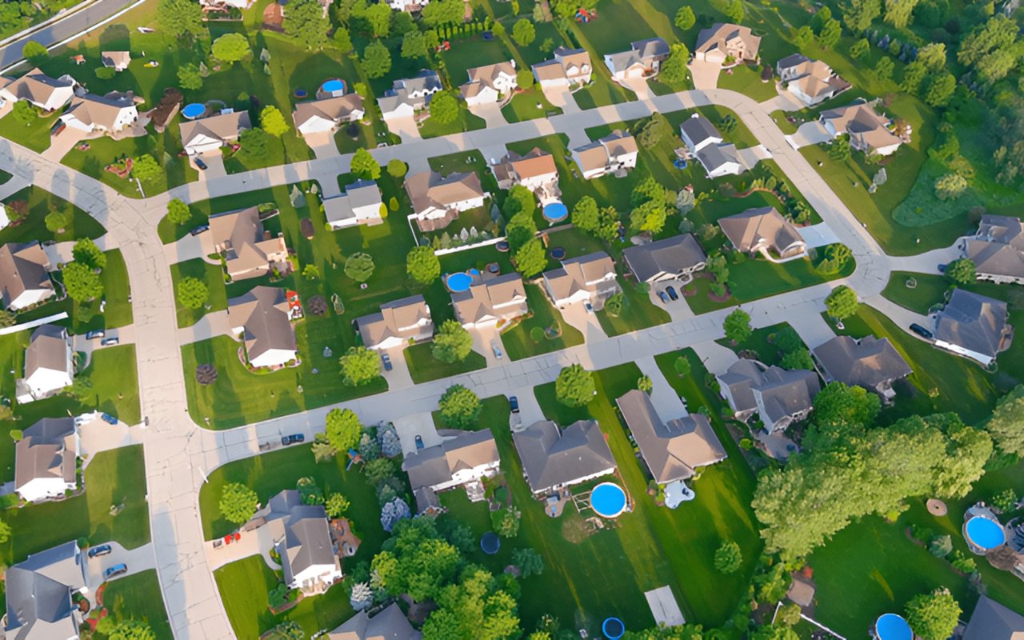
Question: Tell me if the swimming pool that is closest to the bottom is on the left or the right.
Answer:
right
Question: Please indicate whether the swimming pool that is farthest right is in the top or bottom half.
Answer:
bottom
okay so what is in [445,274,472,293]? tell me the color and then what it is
blue swimming pool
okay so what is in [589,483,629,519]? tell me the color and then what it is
blue swimming pool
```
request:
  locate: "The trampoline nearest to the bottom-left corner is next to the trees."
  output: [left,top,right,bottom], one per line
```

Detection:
[479,533,500,554]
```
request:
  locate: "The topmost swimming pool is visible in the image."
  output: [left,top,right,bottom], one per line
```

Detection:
[322,80,344,92]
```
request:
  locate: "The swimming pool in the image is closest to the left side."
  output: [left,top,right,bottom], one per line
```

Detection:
[182,105,205,119]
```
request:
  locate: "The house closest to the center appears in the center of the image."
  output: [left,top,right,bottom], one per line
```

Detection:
[451,275,533,332]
